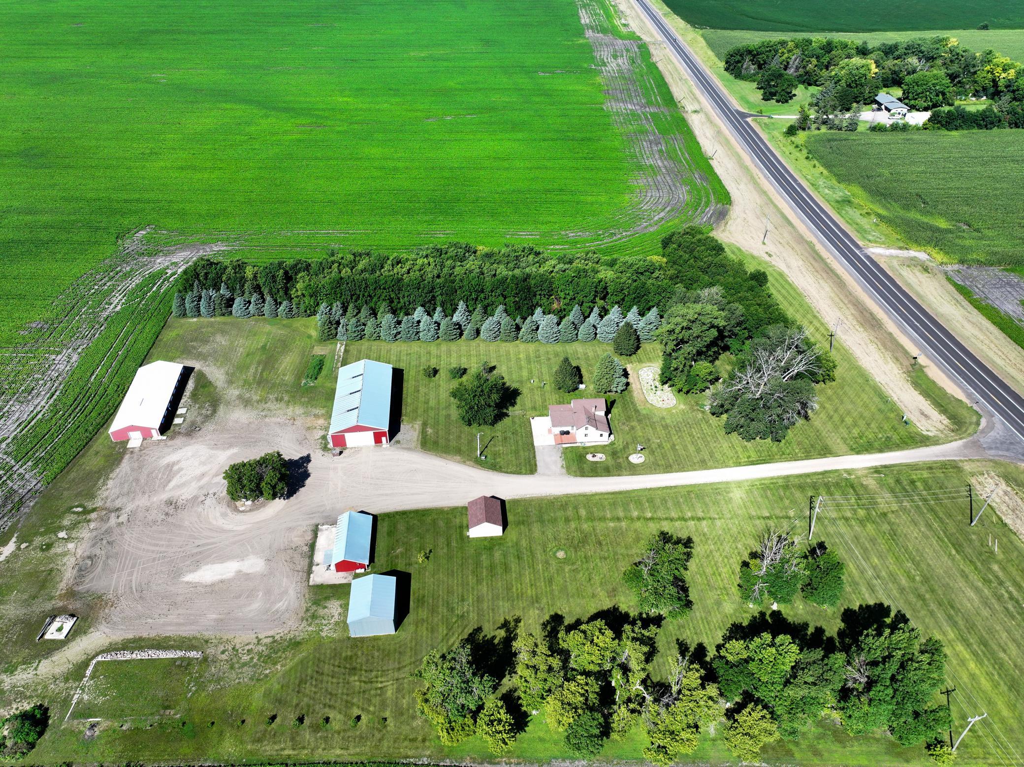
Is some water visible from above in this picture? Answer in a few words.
No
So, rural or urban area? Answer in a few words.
rural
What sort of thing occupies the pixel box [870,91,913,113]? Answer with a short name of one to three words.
house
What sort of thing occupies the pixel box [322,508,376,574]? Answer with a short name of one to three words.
shed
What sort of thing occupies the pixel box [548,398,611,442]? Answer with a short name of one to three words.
house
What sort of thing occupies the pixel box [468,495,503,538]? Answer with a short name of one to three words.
building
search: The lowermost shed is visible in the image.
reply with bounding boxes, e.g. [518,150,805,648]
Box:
[347,572,397,636]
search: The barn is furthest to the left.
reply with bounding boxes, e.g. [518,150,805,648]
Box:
[109,359,186,441]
